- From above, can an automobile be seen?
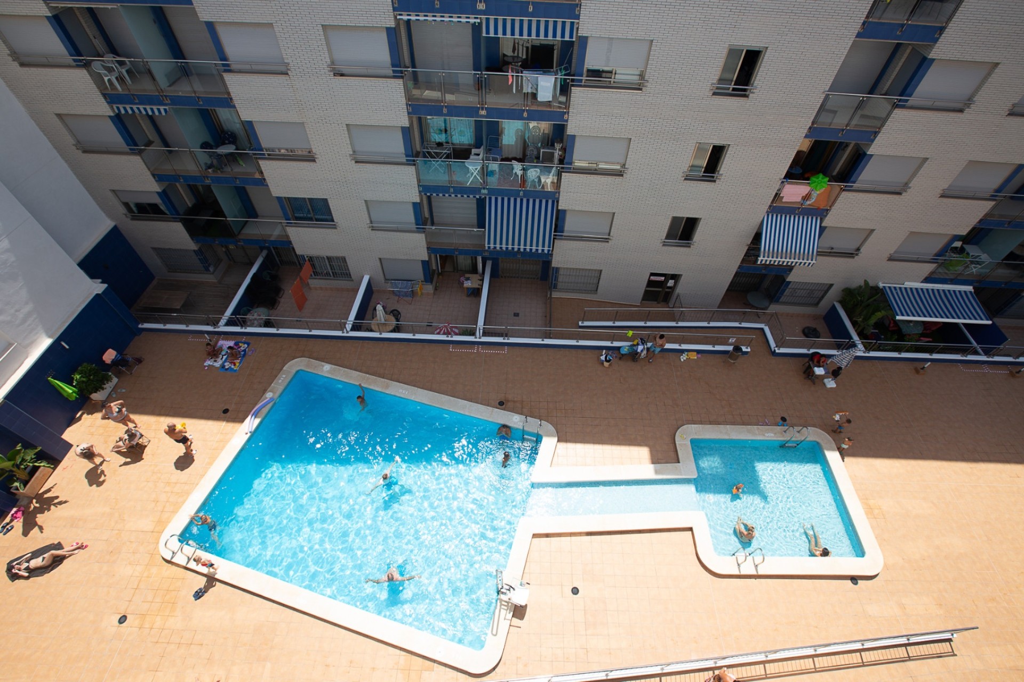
No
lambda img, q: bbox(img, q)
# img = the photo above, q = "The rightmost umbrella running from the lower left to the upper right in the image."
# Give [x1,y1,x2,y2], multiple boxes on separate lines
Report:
[833,338,870,379]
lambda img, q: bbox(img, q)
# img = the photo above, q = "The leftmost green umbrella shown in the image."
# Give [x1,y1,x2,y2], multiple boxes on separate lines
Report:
[44,376,75,396]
